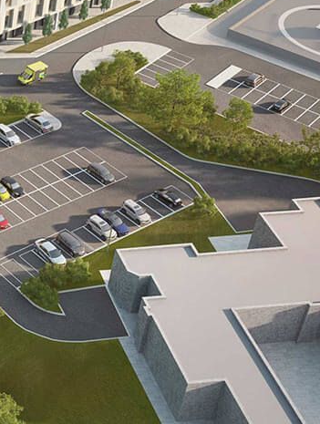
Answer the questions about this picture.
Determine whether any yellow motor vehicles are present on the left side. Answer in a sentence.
Yes, a yellow motor vehicle can be seen on the left side.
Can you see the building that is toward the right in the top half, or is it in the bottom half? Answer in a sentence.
The bottom half of the photo is where the building that is toward the right is.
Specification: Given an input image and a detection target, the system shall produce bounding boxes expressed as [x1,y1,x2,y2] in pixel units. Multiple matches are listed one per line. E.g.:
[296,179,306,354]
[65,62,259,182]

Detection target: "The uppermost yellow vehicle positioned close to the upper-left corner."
[20,59,46,86]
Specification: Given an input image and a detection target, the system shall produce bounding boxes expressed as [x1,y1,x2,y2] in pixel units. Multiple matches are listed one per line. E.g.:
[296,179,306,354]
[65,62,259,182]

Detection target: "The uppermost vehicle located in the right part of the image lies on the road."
[245,73,266,87]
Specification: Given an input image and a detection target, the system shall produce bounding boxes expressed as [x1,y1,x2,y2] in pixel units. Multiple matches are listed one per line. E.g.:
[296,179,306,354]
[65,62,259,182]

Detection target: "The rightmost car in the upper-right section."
[269,101,290,115]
